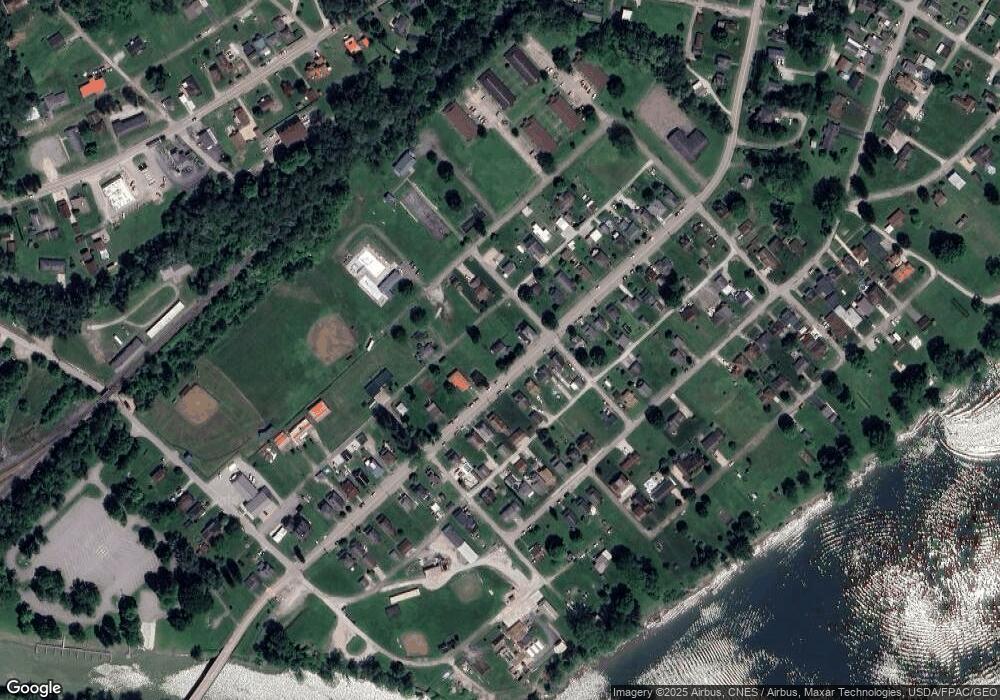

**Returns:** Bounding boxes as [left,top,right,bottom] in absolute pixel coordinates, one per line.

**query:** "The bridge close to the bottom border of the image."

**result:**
[184,630,242,700]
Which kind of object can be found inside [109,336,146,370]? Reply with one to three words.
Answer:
shed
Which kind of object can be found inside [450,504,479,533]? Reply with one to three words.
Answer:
house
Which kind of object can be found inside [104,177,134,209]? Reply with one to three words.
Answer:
building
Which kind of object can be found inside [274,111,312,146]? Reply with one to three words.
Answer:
barn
